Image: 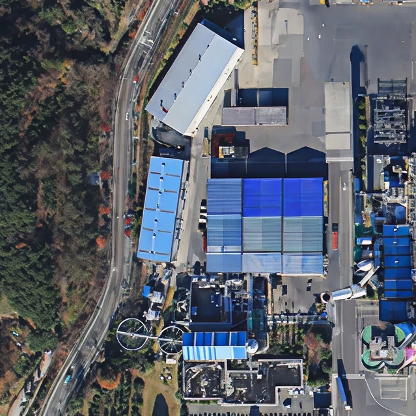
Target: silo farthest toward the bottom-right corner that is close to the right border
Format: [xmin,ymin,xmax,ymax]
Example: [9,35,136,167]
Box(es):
[362,327,406,371]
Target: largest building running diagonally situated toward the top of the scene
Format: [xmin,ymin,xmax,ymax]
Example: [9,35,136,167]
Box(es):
[146,23,237,135]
